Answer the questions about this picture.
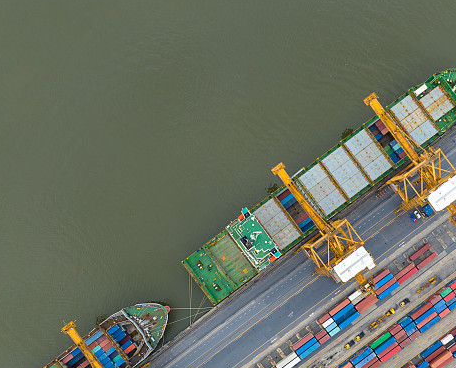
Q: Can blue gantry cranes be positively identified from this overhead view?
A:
No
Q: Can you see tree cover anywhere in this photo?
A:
No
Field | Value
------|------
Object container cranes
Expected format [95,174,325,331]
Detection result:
[364,88,456,230]
[268,159,379,302]
[56,316,108,368]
